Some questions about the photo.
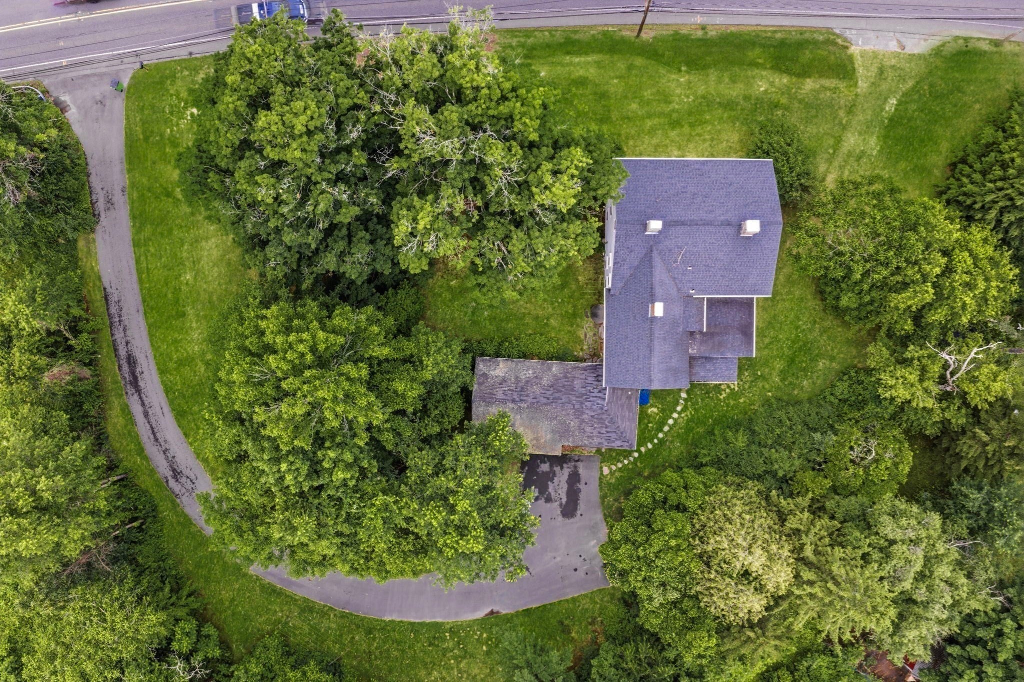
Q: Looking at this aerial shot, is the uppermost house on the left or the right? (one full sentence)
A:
The uppermost house is on the right side of the image.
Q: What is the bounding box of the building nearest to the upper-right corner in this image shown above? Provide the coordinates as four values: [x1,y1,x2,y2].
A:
[600,158,783,389]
